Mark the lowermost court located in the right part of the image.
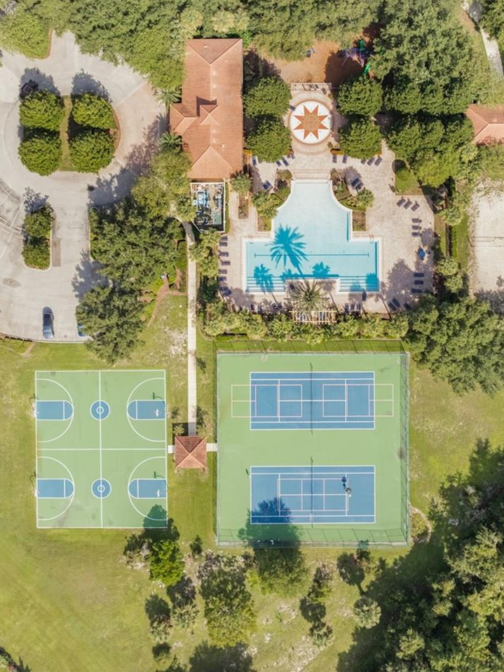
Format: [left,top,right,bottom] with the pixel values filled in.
[217,448,409,542]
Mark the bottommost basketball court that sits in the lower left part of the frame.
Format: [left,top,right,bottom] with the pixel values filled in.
[36,450,167,529]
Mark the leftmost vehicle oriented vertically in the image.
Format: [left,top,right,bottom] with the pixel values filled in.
[42,312,54,337]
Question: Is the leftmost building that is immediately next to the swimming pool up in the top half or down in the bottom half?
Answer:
top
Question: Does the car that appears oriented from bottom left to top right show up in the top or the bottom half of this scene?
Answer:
top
